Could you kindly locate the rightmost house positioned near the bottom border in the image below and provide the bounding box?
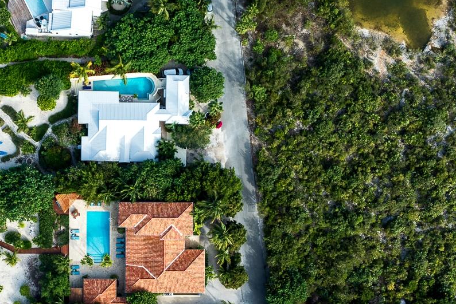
[118,201,205,296]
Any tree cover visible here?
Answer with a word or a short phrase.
Yes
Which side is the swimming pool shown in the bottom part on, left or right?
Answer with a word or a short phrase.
left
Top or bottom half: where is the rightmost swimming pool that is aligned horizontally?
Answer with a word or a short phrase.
top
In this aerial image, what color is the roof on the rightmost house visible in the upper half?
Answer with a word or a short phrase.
white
